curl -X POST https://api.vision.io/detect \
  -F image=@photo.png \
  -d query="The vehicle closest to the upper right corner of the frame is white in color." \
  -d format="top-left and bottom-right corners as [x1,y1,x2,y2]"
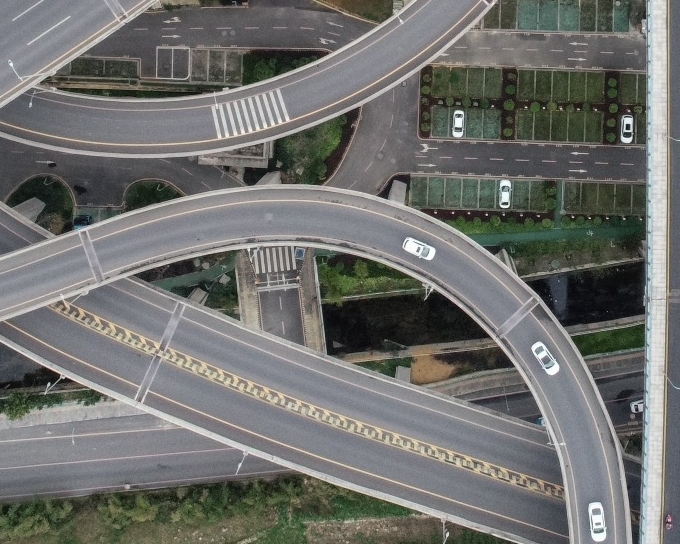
[621,115,634,143]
